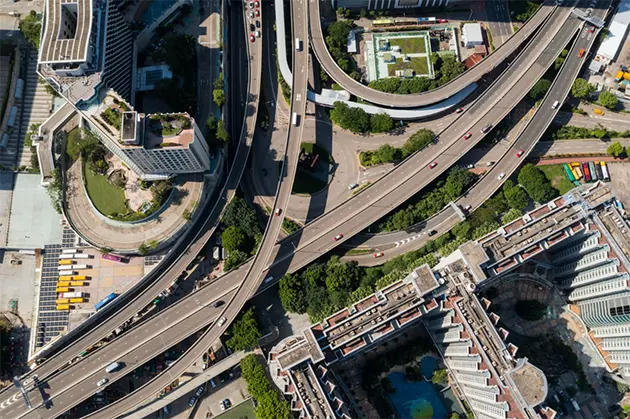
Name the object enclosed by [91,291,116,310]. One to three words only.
vehicle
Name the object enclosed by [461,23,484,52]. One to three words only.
building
